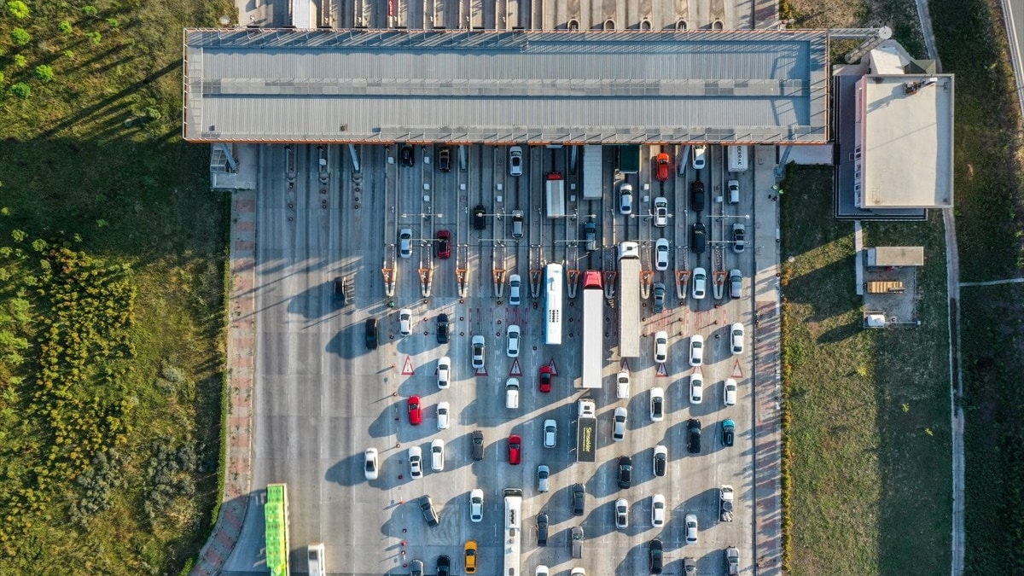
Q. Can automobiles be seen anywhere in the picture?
Yes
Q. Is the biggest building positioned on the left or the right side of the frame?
right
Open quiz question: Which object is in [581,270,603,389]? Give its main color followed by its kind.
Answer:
white truck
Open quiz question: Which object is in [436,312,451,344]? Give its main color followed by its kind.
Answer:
black car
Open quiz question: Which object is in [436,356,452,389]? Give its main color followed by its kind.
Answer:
white car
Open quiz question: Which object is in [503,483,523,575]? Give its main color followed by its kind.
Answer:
white bus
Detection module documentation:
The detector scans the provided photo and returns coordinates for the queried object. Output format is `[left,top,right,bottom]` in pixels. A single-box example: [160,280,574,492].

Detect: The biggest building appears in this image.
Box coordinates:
[853,74,957,209]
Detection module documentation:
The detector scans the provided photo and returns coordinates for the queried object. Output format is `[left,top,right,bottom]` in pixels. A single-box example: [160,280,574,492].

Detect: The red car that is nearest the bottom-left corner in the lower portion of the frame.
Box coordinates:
[407,395,422,425]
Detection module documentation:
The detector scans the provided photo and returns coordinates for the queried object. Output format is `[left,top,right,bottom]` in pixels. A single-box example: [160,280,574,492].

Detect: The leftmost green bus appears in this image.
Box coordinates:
[265,480,291,576]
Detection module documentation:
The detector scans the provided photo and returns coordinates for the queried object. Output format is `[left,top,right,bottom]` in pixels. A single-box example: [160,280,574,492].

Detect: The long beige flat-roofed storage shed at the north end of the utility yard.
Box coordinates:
[862,247,924,265]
